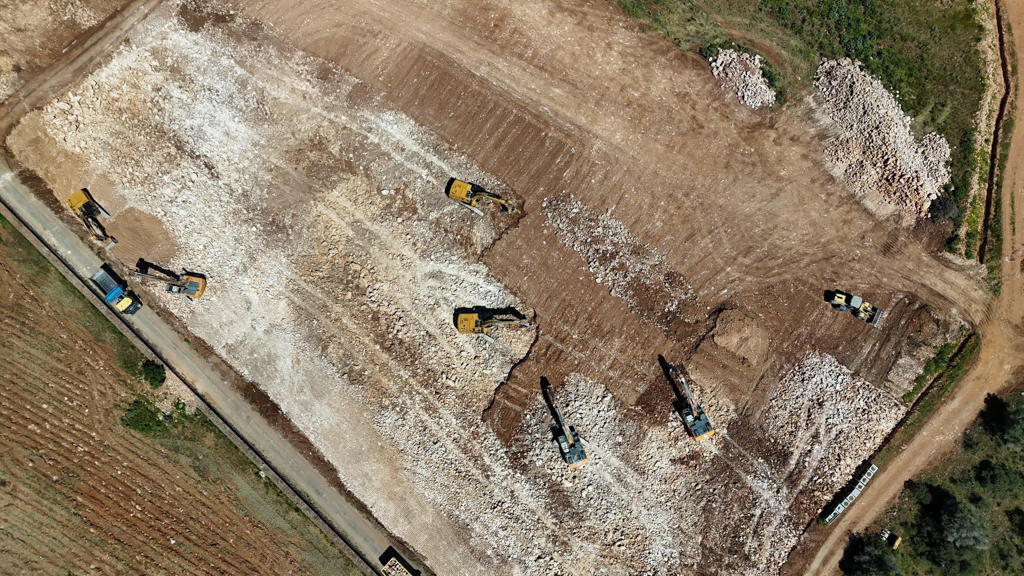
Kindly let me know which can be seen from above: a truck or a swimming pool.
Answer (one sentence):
The one in the frame is a truck.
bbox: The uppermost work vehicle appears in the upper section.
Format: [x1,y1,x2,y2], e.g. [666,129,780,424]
[450,178,521,214]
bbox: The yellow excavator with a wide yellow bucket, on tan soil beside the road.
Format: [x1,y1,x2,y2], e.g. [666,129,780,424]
[67,193,118,250]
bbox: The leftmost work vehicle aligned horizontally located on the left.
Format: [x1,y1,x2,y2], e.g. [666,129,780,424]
[126,266,215,304]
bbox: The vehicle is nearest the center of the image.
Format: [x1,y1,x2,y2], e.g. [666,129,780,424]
[457,305,533,340]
